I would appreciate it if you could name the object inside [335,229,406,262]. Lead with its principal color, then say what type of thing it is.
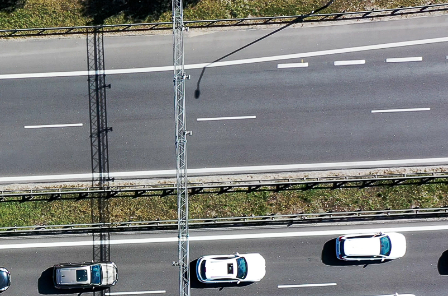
white car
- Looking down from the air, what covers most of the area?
paved ground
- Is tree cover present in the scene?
No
